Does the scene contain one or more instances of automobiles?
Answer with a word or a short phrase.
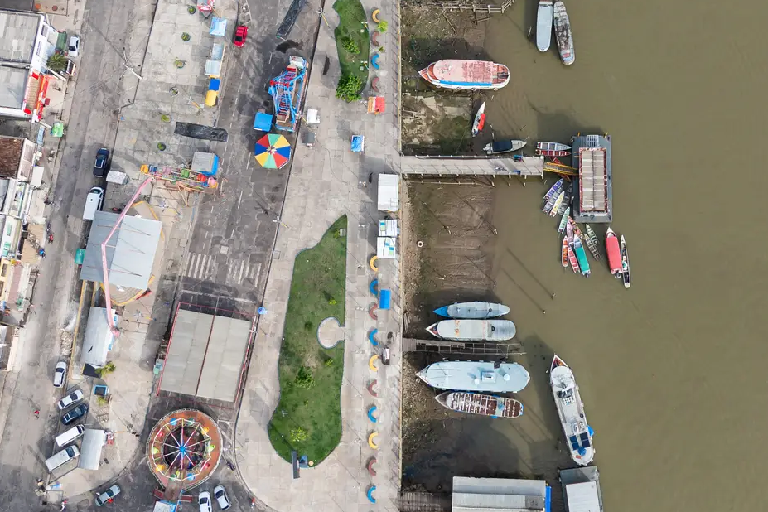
Yes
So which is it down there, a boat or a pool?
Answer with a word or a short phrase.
boat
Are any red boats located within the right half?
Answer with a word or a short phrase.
Yes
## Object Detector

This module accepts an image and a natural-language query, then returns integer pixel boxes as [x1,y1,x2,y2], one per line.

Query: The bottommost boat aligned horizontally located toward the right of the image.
[434,391,523,421]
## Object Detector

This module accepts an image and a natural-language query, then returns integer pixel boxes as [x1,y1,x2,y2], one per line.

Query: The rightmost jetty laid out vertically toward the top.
[573,136,613,223]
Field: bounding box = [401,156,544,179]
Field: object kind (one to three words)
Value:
pier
